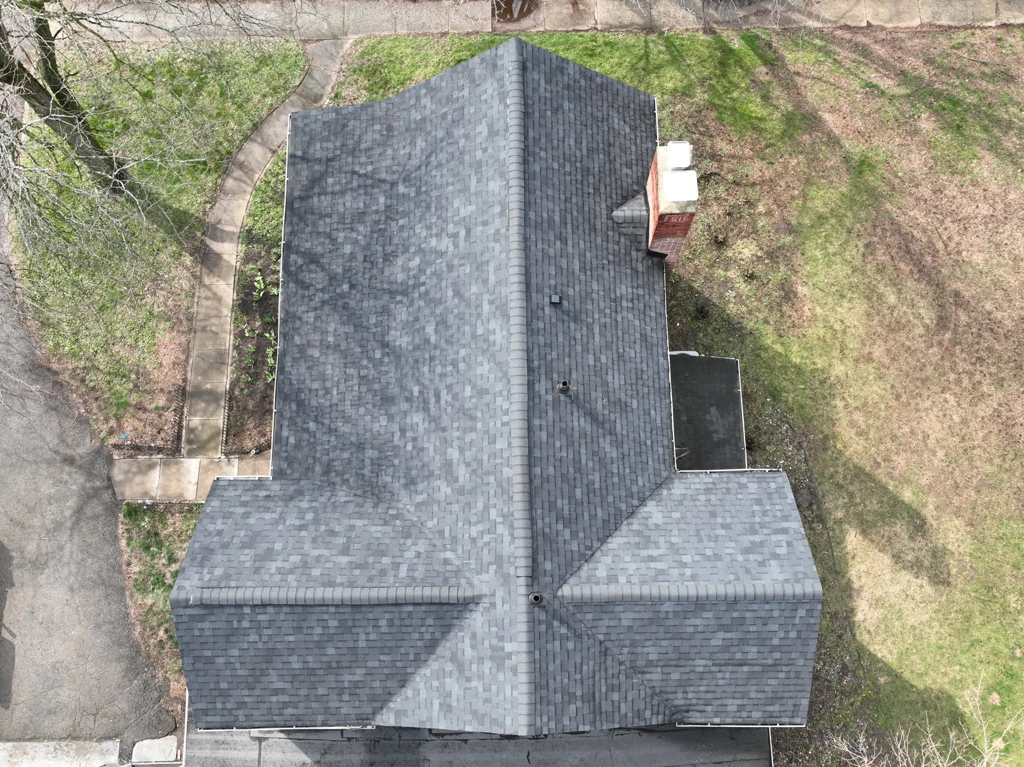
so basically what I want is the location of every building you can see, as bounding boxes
[169,38,825,767]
